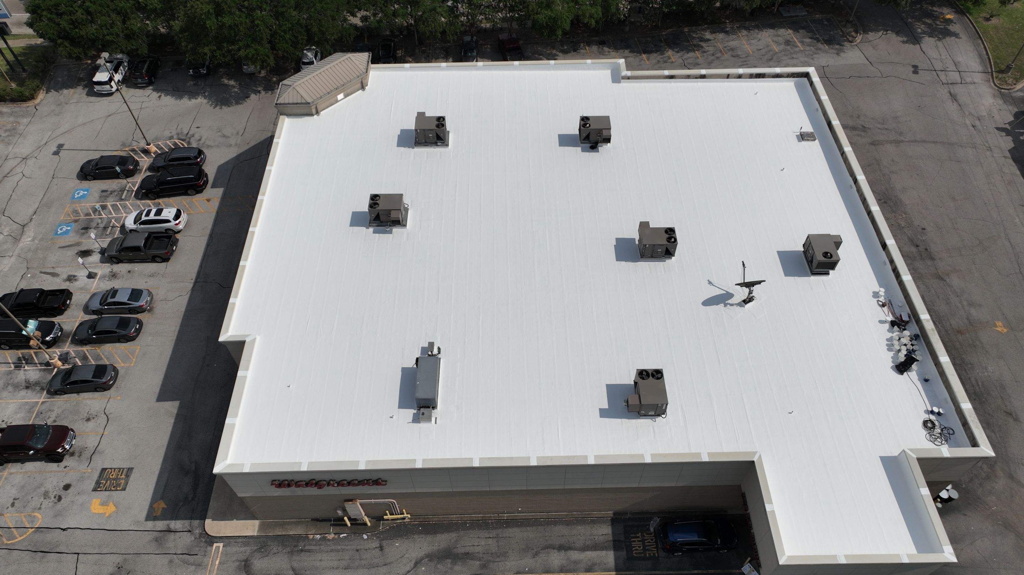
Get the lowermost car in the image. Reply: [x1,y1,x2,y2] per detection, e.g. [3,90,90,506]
[658,513,739,555]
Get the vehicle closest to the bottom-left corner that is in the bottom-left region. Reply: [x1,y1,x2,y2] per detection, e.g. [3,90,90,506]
[0,424,80,464]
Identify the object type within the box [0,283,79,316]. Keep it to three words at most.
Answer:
truck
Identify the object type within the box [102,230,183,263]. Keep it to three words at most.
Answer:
truck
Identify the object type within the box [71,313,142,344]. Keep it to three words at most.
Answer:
car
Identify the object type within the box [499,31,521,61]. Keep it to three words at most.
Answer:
car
